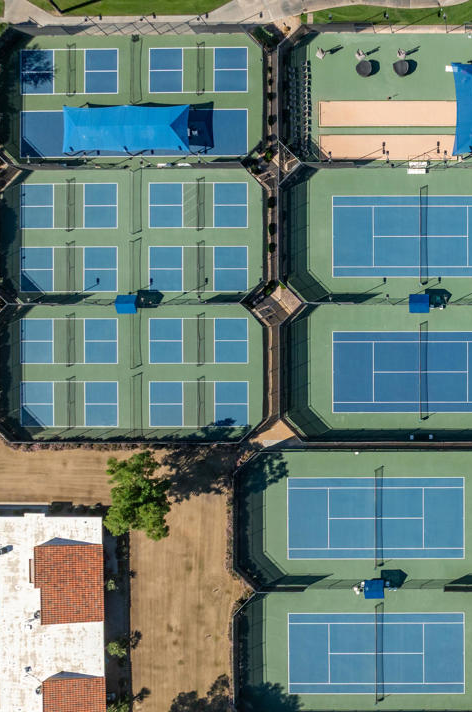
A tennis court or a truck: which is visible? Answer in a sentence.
Visible in the photo is a tennis court.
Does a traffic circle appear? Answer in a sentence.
No, no traffic circle can be seen from above.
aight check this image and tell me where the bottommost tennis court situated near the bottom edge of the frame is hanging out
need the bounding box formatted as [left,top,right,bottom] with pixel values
[240,585,472,712]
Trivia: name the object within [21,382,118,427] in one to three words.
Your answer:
sports court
